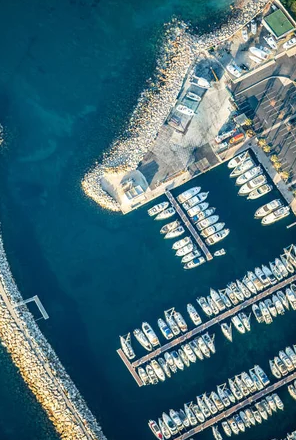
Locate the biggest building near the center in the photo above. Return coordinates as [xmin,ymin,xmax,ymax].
[120,172,147,203]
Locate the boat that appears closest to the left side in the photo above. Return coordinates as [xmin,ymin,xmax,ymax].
[120,337,135,360]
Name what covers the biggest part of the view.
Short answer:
water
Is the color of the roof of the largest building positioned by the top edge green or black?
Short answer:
green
